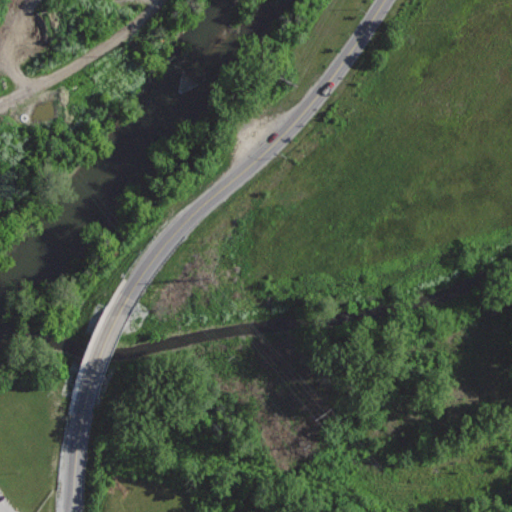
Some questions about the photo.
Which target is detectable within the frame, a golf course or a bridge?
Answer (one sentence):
There is a bridge in the scene.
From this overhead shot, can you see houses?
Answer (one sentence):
No, the scene contains no house.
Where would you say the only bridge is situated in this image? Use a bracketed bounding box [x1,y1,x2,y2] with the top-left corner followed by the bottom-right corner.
[60,271,150,399]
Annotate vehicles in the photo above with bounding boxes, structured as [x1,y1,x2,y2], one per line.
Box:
[269,132,278,142]
[322,81,334,95]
